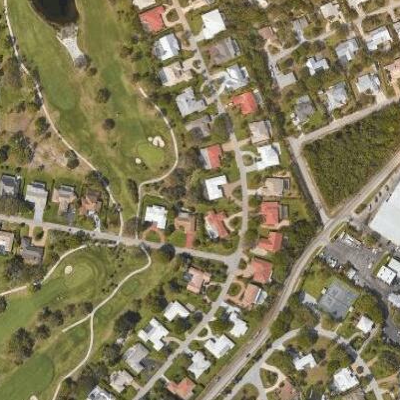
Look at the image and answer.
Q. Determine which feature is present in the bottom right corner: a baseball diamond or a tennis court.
tennis court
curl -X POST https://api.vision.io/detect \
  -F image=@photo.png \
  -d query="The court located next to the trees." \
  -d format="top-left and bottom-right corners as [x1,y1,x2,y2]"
[320,274,366,323]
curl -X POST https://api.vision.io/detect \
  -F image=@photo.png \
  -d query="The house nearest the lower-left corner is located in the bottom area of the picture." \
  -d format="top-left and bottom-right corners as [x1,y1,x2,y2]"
[85,382,113,400]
